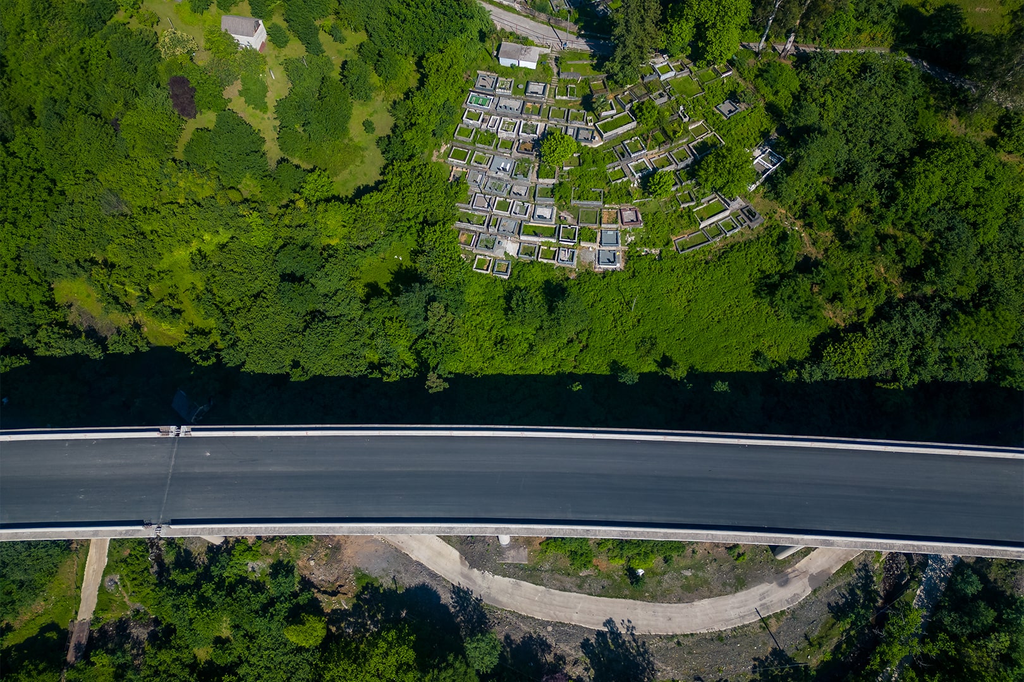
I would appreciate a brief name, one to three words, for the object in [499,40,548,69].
shed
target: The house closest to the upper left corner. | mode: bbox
[222,16,264,49]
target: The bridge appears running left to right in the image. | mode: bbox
[0,425,1024,566]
